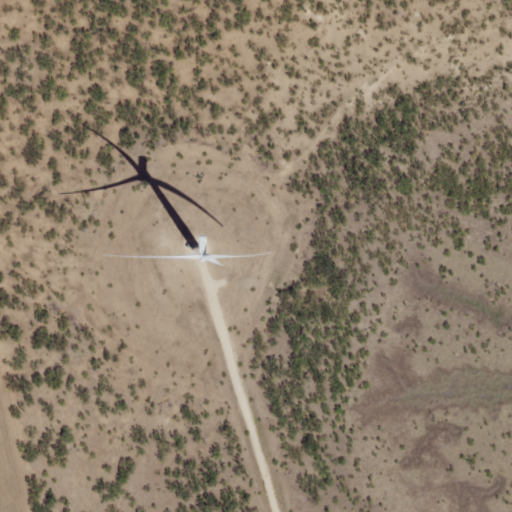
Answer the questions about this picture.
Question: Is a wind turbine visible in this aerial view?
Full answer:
Yes, there's a wind turbine down there.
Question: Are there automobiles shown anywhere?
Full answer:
No, no automobile is visible in the view.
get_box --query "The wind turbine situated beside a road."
[116,236,262,264]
